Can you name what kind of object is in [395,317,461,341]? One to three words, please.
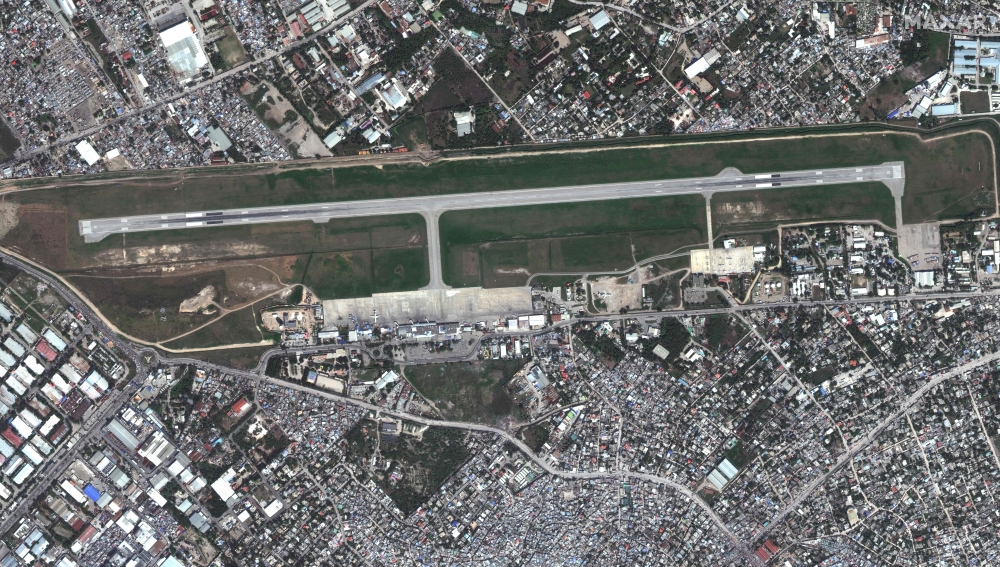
building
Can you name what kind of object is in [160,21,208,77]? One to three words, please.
building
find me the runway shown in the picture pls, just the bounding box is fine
[79,161,904,243]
